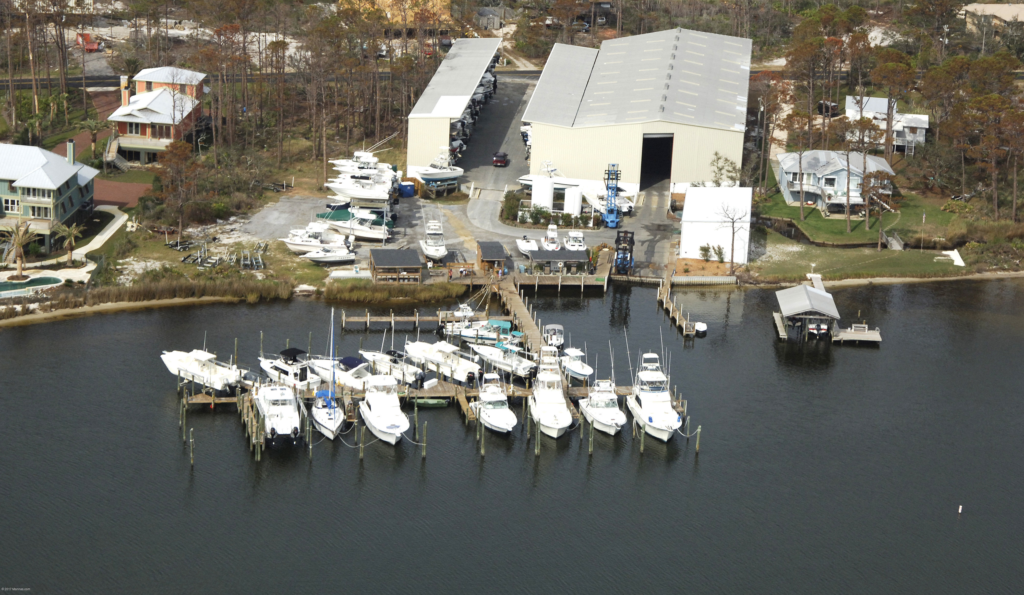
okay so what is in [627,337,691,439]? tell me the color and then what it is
white boat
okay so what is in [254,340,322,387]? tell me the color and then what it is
white boat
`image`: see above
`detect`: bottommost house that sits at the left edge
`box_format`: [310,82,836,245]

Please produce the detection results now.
[0,133,107,269]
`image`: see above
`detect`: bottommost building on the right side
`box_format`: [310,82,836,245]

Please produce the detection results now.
[777,274,885,345]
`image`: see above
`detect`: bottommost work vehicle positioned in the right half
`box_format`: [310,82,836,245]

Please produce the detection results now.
[615,229,638,274]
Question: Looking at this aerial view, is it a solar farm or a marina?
marina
